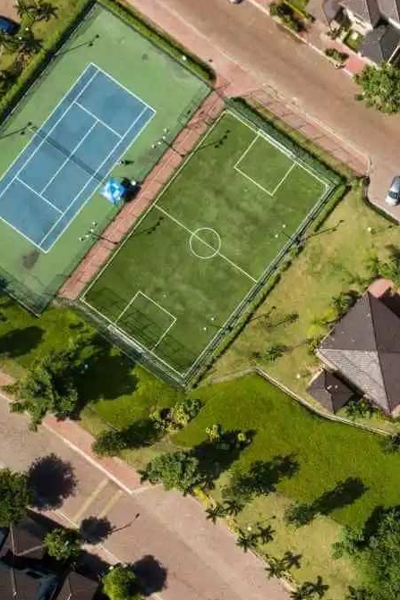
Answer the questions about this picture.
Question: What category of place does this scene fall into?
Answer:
sports ground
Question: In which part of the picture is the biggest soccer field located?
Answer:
center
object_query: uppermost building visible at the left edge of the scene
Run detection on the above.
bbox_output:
[0,522,47,565]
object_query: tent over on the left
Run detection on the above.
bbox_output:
[101,179,134,209]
